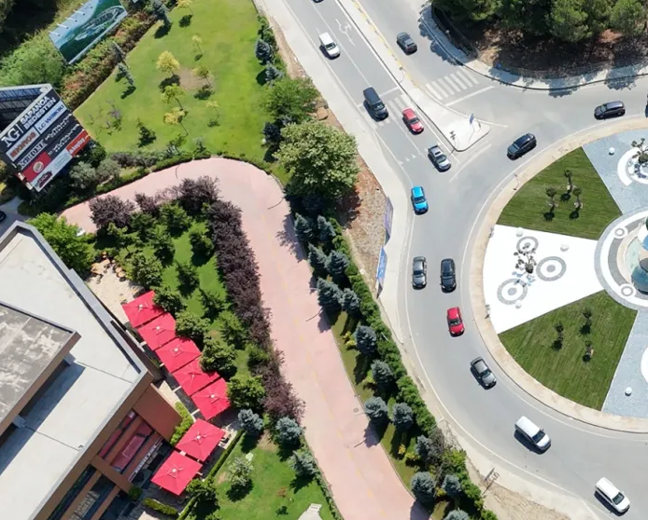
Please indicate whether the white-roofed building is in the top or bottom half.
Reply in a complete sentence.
The white-roofed building sits in the bottom half of the picture.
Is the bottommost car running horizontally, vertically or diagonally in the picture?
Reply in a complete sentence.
In this picture, the bottommost car lies diagonally.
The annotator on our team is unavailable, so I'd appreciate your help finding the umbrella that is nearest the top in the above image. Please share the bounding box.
[123,291,160,328]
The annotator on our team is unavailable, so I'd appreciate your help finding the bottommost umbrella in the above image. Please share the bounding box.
[152,451,203,496]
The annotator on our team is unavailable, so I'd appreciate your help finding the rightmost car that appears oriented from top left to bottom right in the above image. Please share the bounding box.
[595,476,632,517]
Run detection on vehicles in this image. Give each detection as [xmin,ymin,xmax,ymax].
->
[426,141,451,173]
[318,29,340,56]
[397,31,417,54]
[469,354,497,391]
[593,101,626,120]
[515,414,551,454]
[506,131,537,157]
[445,304,465,337]
[404,107,423,133]
[410,184,428,215]
[411,257,427,289]
[362,83,386,118]
[595,476,632,517]
[439,258,458,290]
[0,203,12,218]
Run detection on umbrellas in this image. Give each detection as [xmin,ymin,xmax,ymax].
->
[138,315,177,351]
[173,358,221,396]
[191,379,231,421]
[123,291,160,328]
[152,451,203,496]
[175,419,225,461]
[155,338,197,373]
